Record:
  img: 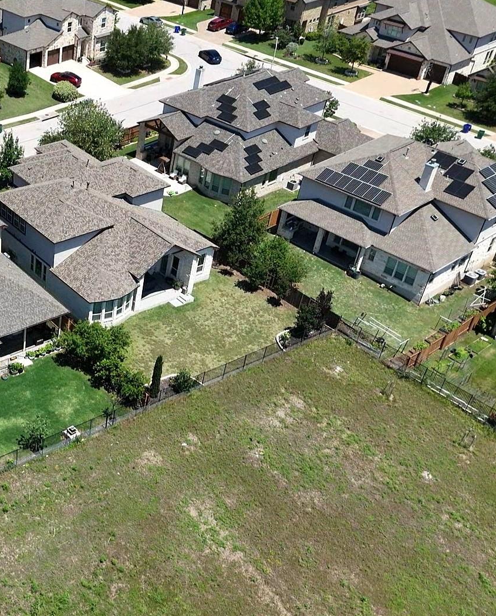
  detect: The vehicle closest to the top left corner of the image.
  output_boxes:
[46,67,82,82]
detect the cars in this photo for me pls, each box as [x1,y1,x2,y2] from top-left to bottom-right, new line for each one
[46,67,82,82]
[194,47,229,63]
[136,12,167,23]
[222,19,252,33]
[206,14,232,31]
